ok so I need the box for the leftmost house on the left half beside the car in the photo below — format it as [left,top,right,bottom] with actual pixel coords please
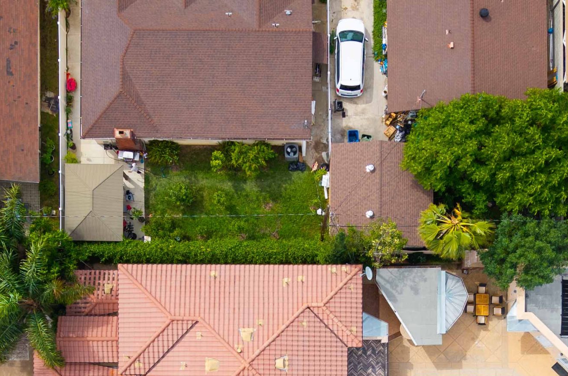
[78,0,327,163]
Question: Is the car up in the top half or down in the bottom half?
top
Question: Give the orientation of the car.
from top to bottom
